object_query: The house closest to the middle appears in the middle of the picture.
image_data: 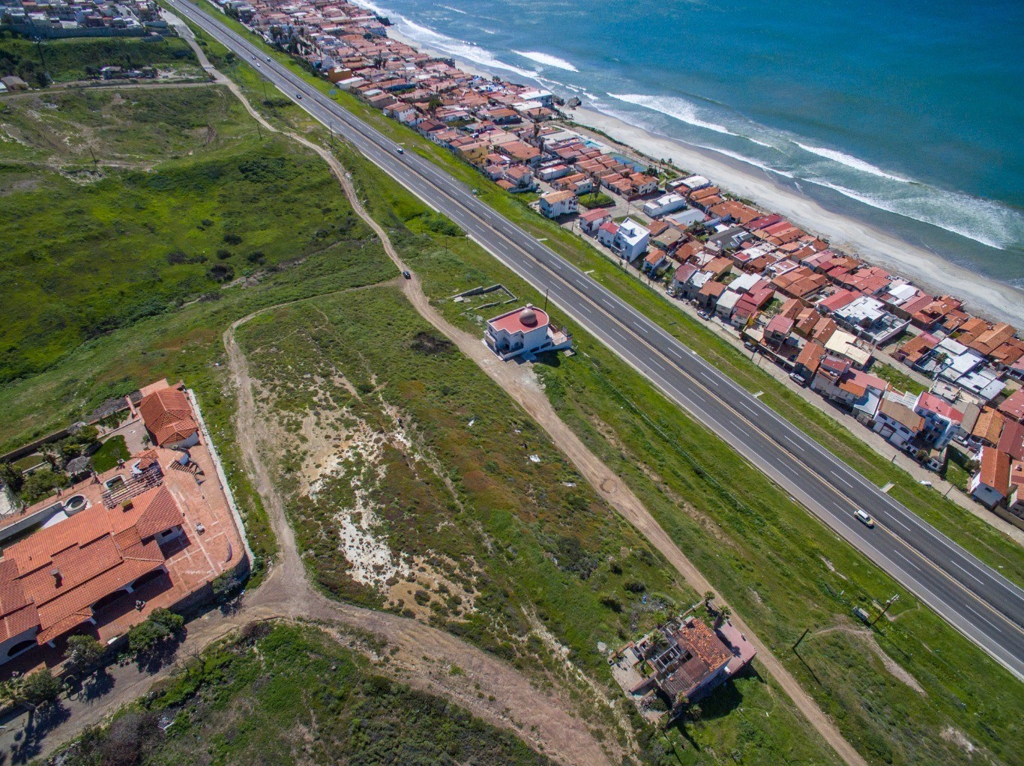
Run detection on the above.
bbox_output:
[484,302,572,358]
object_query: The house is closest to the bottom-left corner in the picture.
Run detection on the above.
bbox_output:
[0,484,184,660]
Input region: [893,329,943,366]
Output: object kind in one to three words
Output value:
house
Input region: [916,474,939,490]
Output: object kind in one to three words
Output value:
car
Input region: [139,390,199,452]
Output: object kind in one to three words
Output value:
house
